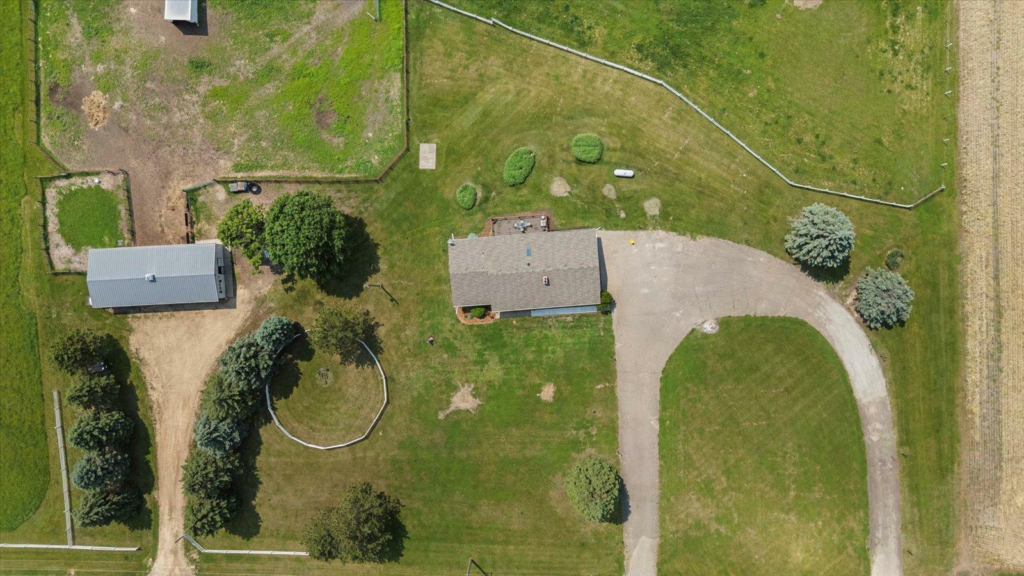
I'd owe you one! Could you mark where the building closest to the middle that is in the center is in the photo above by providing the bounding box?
[447,227,602,314]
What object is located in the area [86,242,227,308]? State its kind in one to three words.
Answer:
barn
